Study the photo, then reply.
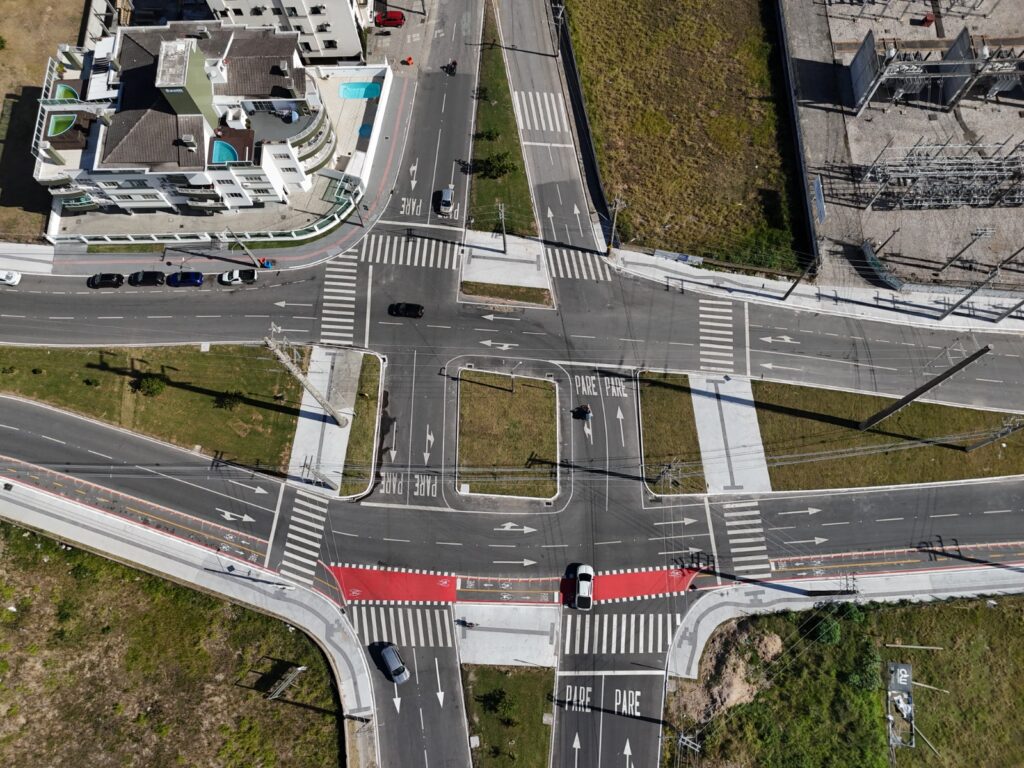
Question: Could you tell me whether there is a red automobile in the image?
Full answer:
Yes, this view includes a red automobile.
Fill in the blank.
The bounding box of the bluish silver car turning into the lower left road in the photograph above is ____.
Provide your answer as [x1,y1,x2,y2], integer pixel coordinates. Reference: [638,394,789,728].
[378,641,409,687]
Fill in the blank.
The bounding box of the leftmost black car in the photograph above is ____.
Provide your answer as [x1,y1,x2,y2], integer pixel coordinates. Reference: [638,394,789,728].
[85,270,123,287]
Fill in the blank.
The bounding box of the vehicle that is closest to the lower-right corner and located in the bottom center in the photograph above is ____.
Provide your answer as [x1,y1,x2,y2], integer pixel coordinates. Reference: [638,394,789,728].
[574,564,595,612]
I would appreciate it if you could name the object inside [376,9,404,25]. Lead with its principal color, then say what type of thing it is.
red car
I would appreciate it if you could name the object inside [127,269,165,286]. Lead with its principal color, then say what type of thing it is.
black car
